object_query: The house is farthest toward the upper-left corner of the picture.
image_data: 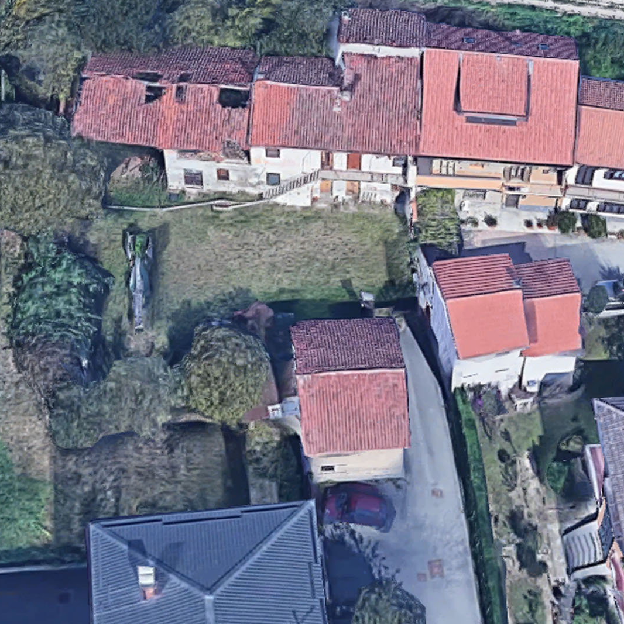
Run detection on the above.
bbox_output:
[74,46,259,194]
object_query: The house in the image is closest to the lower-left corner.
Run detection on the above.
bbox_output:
[87,499,335,624]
